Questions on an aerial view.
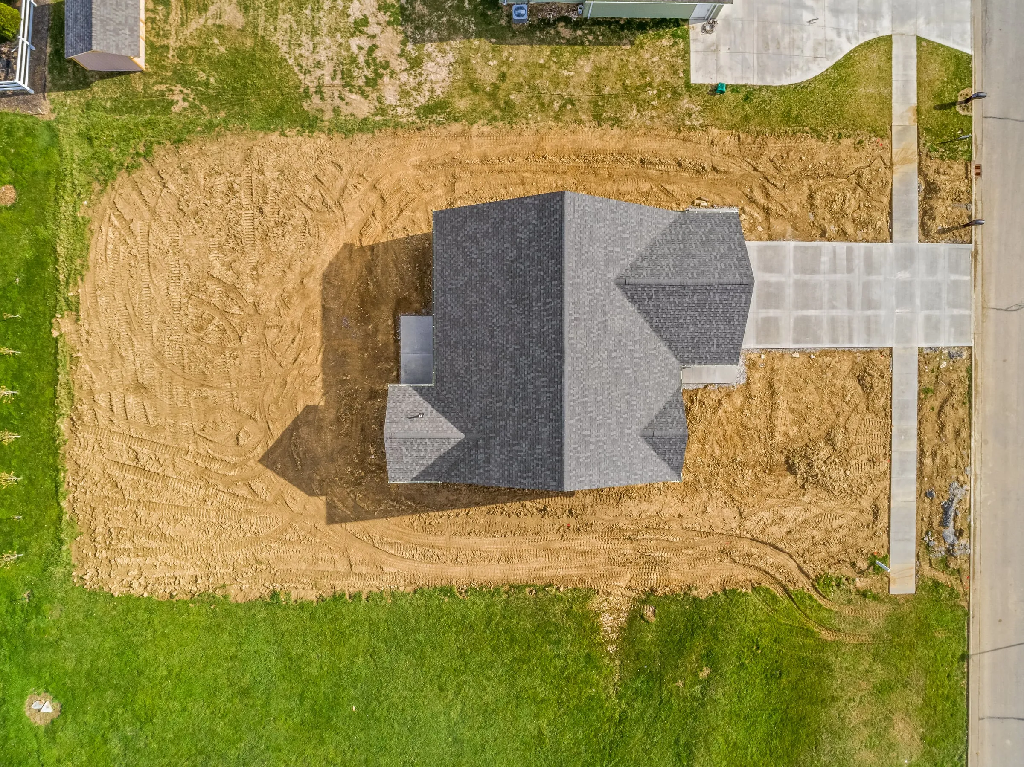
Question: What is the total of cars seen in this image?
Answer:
none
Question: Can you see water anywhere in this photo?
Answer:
No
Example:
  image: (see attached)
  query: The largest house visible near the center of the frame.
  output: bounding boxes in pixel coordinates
[384,189,755,492]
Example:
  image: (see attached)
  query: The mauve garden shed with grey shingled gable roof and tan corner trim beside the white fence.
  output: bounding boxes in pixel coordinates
[65,0,145,71]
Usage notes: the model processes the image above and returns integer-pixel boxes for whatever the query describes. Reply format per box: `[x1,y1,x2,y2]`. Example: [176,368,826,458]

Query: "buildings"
[384,189,755,492]
[499,0,733,23]
[65,0,145,71]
